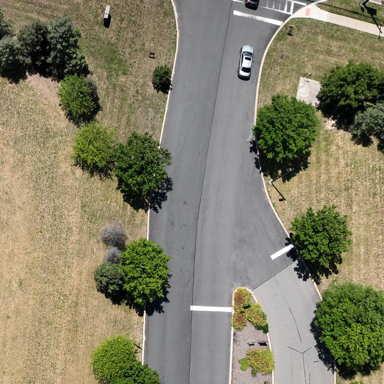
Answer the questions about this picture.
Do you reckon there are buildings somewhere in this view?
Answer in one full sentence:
No, there's no building here.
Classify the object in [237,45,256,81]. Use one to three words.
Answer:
car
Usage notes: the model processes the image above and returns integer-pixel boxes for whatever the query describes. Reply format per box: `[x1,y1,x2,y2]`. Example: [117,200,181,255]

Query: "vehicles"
[237,45,256,81]
[244,0,259,12]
